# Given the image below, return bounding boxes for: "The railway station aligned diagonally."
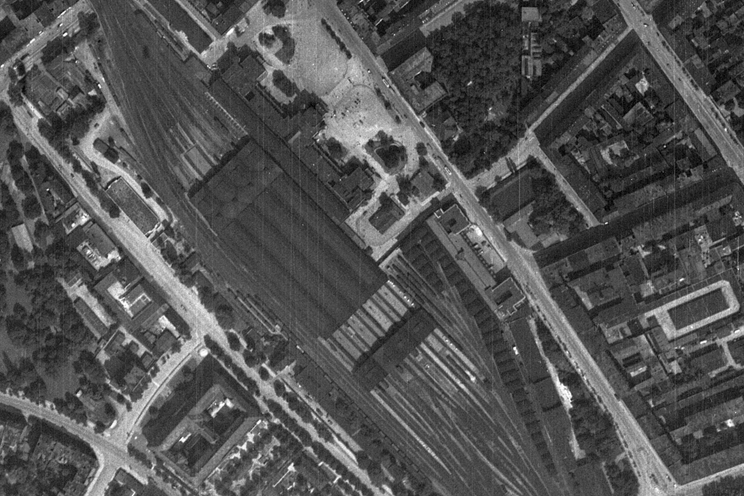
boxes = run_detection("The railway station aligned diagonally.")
[157,31,513,474]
